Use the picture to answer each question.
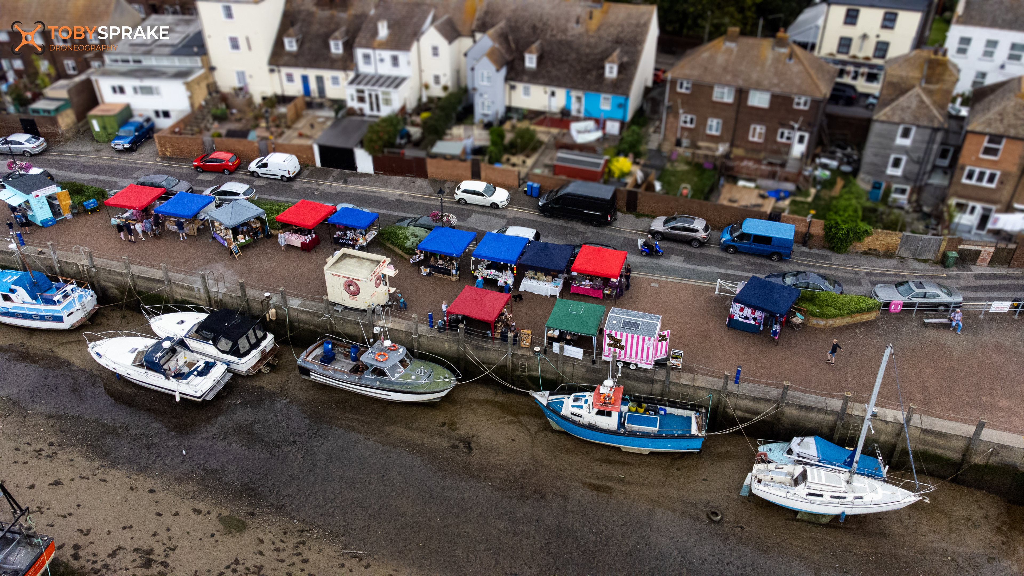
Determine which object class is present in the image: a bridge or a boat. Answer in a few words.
boat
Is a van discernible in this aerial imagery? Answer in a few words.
Yes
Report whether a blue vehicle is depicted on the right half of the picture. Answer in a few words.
Yes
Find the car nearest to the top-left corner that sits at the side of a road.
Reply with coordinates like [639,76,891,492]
[0,133,47,156]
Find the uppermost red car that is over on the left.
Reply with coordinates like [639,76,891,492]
[189,151,244,175]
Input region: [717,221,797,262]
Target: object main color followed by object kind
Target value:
blue van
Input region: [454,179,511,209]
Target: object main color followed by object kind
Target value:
white car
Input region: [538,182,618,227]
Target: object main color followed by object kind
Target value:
black van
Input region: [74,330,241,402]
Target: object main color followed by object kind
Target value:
white boat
